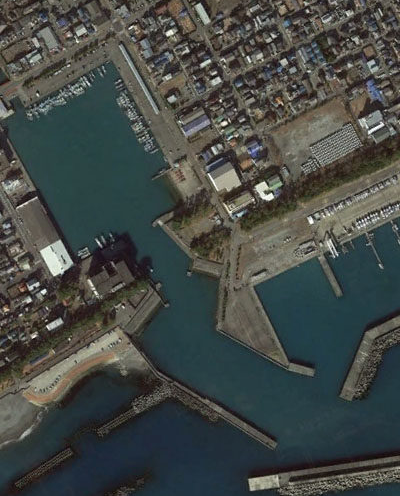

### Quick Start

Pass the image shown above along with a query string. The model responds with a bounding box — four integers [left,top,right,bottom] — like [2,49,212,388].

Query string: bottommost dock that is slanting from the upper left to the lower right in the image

[129,334,276,450]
